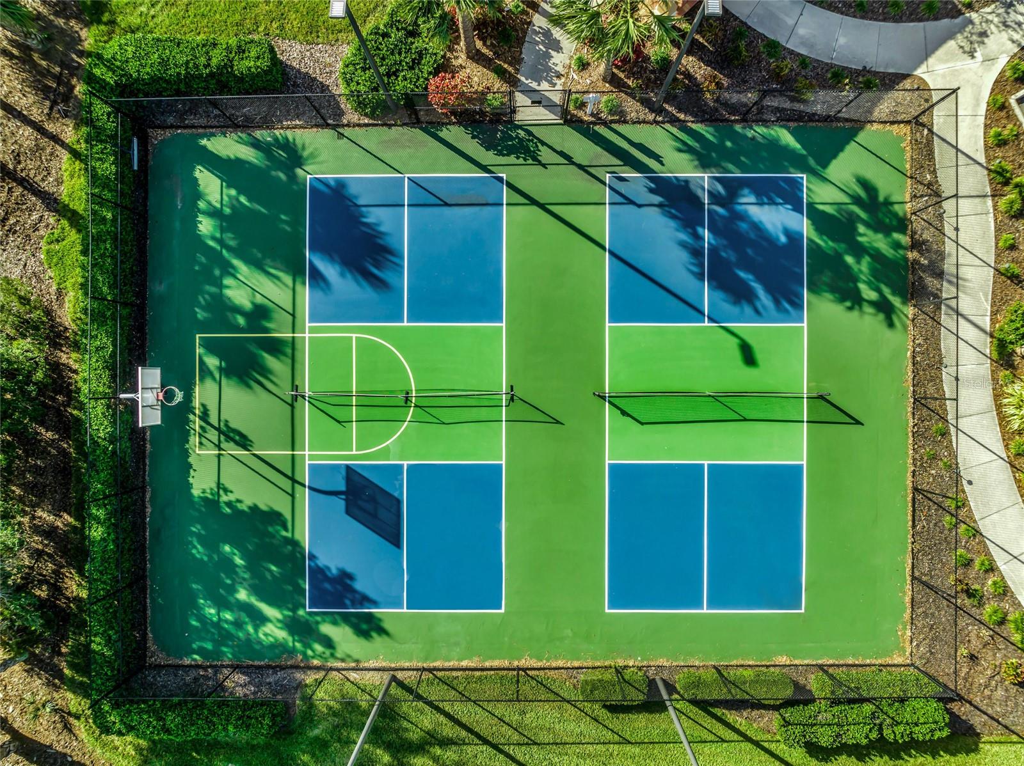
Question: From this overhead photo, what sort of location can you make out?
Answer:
sports ground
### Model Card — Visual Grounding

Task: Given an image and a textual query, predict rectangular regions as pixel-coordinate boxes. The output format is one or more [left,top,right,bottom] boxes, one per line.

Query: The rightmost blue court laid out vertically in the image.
[607,174,805,613]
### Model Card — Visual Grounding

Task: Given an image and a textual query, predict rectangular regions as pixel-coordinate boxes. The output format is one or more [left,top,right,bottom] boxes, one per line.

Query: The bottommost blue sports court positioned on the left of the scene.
[307,174,505,613]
